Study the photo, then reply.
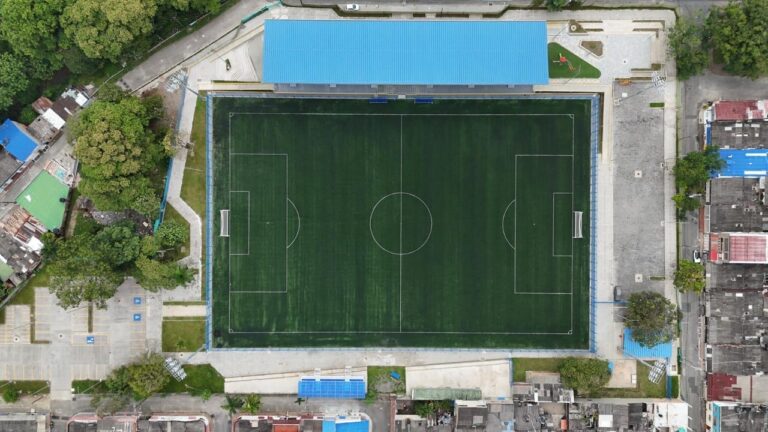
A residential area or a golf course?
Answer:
residential area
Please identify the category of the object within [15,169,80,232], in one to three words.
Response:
house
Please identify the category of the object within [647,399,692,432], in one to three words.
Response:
house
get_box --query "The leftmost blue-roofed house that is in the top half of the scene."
[0,118,47,161]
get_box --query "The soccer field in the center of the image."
[212,98,590,349]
